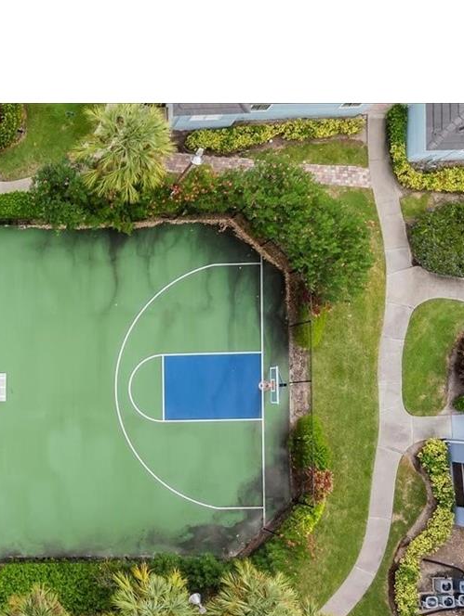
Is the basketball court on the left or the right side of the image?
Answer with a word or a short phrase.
left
